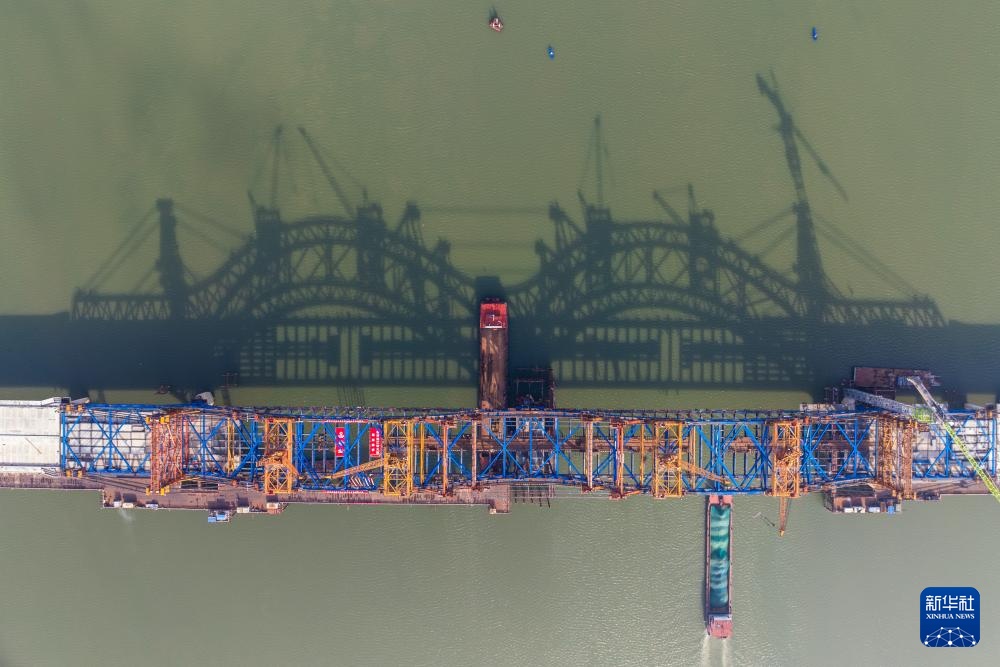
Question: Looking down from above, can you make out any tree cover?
No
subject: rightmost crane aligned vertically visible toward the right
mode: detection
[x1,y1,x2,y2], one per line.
[752,417,799,536]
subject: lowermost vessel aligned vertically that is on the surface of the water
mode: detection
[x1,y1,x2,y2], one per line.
[707,479,733,639]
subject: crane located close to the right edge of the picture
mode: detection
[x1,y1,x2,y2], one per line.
[827,372,1000,503]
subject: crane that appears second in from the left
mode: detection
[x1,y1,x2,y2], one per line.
[330,414,415,494]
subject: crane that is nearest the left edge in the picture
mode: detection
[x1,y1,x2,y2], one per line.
[256,413,302,493]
